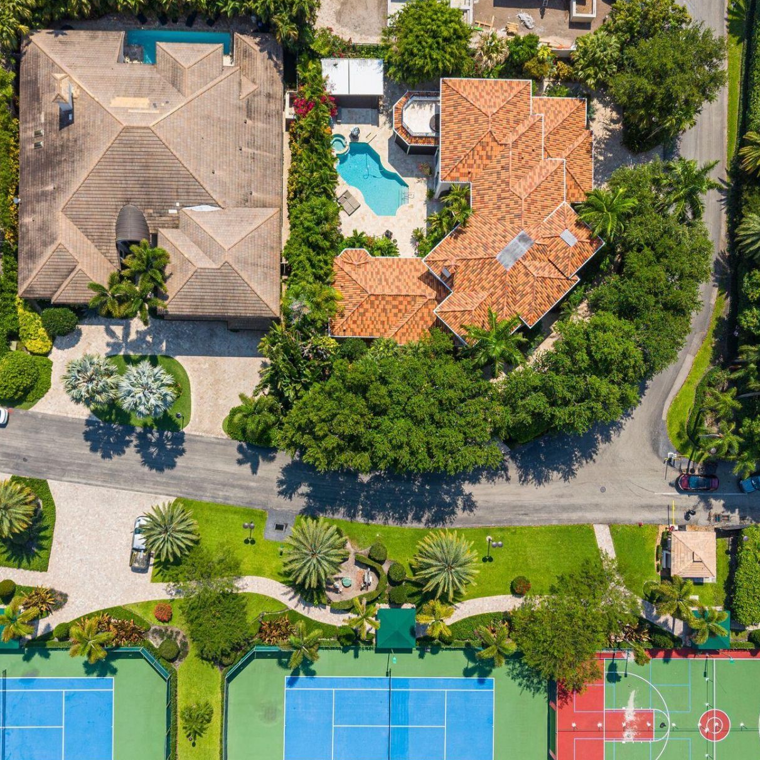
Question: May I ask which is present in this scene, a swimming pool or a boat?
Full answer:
The image shows a swimming pool.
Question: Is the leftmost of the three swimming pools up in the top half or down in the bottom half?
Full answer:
The leftmost of the three swimming pools sits in the top half of the picture.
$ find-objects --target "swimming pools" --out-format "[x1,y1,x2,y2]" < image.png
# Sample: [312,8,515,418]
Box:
[332,134,351,155]
[335,140,411,218]
[124,28,233,65]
